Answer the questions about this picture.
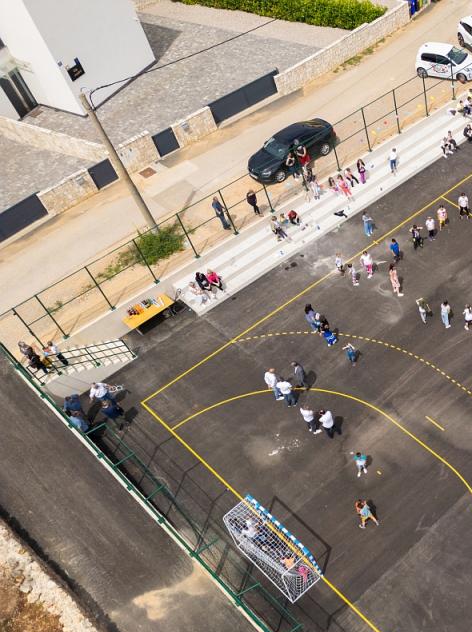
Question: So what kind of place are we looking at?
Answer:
sports ground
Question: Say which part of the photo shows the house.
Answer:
top left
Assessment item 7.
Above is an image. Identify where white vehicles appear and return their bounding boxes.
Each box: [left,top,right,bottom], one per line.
[409,40,472,83]
[452,12,472,51]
